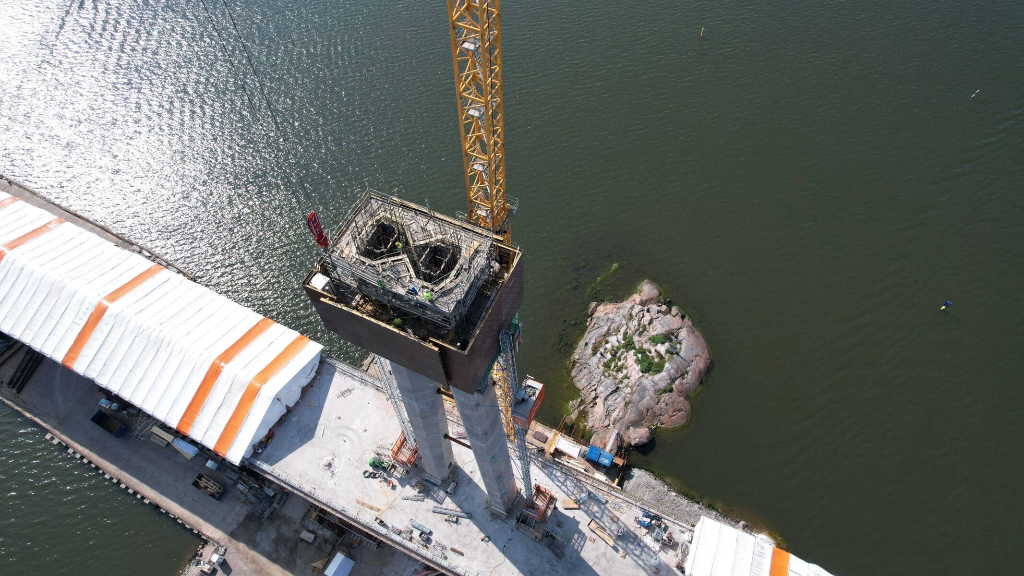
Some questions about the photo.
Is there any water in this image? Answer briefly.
Yes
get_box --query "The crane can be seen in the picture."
[445,0,523,445]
